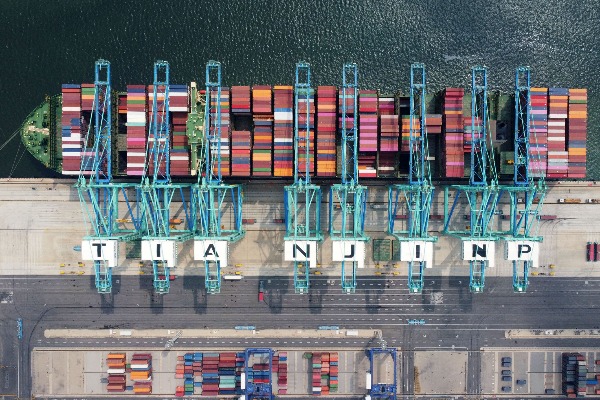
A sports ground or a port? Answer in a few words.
port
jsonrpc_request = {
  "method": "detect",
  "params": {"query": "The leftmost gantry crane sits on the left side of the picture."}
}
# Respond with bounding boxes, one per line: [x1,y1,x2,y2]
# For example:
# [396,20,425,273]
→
[76,59,149,294]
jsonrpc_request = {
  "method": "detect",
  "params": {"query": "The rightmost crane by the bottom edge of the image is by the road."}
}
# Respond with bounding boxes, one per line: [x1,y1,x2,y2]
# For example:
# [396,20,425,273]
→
[360,347,397,400]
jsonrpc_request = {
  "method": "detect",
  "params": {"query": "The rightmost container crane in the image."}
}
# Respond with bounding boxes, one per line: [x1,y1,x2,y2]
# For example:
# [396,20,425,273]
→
[476,63,551,295]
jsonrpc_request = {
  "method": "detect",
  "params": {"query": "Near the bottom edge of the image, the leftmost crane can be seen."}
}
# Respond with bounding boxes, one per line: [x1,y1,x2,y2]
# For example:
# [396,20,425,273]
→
[238,347,277,400]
